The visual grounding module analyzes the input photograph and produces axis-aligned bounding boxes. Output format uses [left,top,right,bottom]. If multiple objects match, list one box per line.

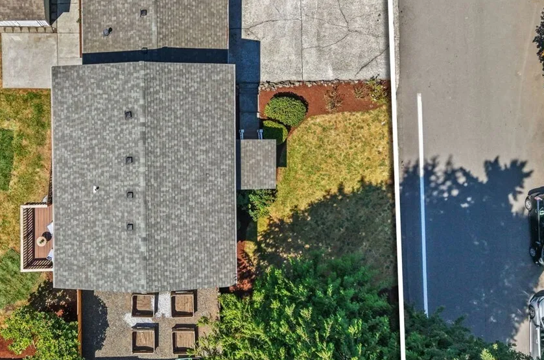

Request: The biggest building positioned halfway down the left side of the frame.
[48,61,237,297]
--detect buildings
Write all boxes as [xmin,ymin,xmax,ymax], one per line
[0,0,50,26]
[48,61,237,297]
